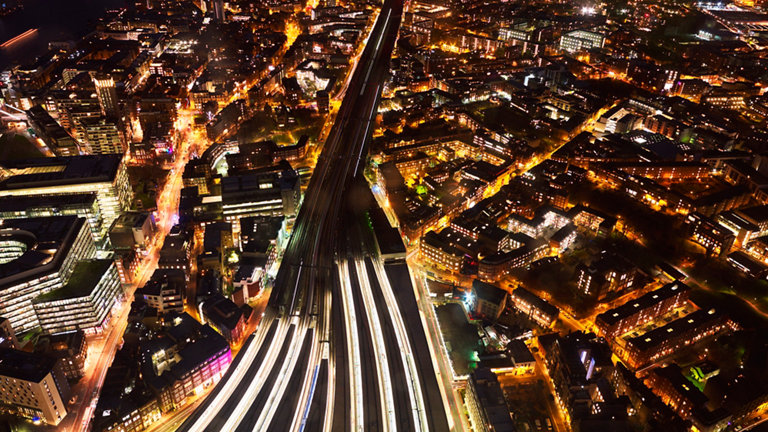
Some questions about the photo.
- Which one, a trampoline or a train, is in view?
train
